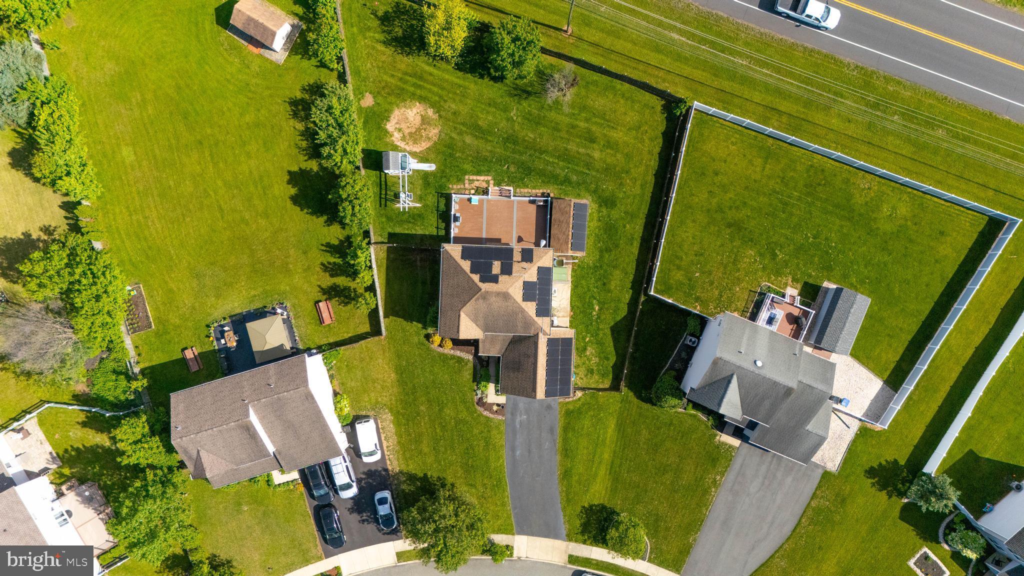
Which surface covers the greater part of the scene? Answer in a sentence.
Most of the picture is covered by grass.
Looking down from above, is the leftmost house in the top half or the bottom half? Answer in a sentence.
The bottom half of the photo is where the leftmost house is.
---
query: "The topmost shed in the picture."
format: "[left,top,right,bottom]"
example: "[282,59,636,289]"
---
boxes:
[230,0,295,53]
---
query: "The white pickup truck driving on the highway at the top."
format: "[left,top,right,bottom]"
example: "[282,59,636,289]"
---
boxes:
[774,0,838,31]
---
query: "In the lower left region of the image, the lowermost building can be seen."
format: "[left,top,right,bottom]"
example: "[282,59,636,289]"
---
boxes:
[0,439,102,576]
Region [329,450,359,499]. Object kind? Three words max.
car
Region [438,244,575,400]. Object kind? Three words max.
house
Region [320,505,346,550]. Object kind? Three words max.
car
